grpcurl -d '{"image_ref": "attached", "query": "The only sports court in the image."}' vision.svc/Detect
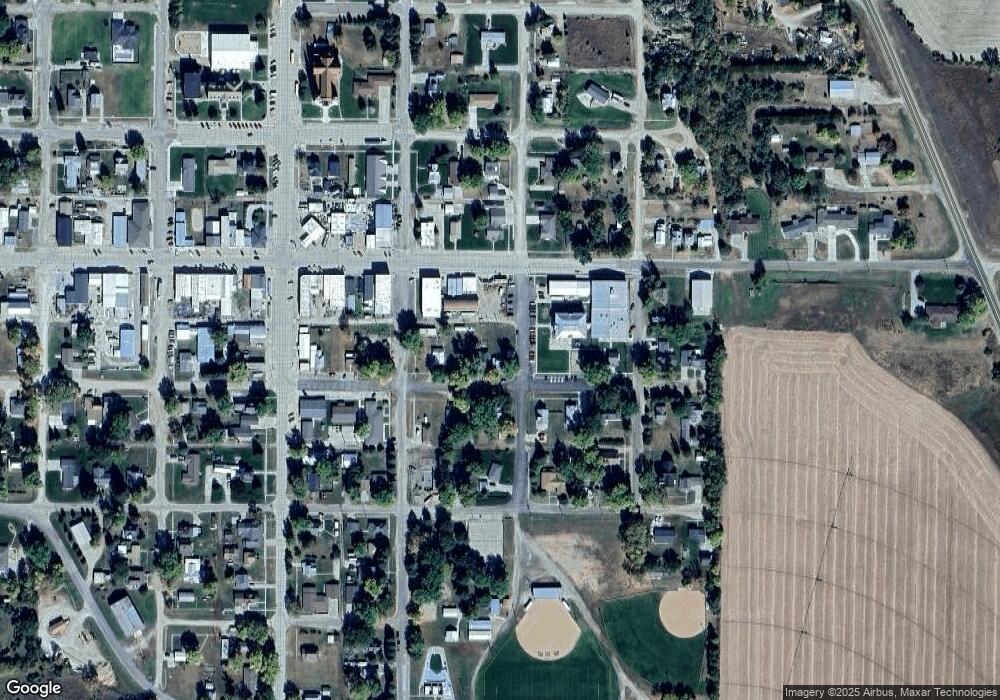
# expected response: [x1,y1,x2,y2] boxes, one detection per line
[469,518,503,562]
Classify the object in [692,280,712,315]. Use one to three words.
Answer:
barn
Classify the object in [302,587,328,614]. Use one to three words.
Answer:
house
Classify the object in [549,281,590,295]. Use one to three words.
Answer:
building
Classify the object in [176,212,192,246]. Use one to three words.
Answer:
building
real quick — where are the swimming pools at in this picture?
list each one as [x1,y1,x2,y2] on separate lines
[418,646,455,700]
